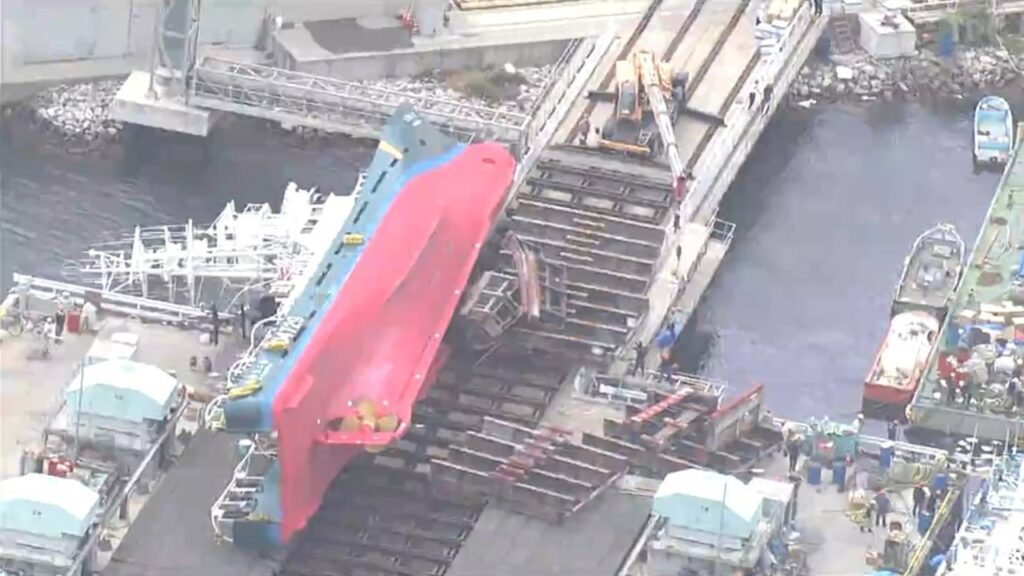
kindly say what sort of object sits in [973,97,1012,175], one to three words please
boat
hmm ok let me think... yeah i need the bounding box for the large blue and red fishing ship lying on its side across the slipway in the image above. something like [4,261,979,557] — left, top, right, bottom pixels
[47,99,525,538]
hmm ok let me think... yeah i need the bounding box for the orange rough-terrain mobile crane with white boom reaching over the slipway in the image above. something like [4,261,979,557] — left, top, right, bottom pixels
[575,51,733,238]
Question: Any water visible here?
Yes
